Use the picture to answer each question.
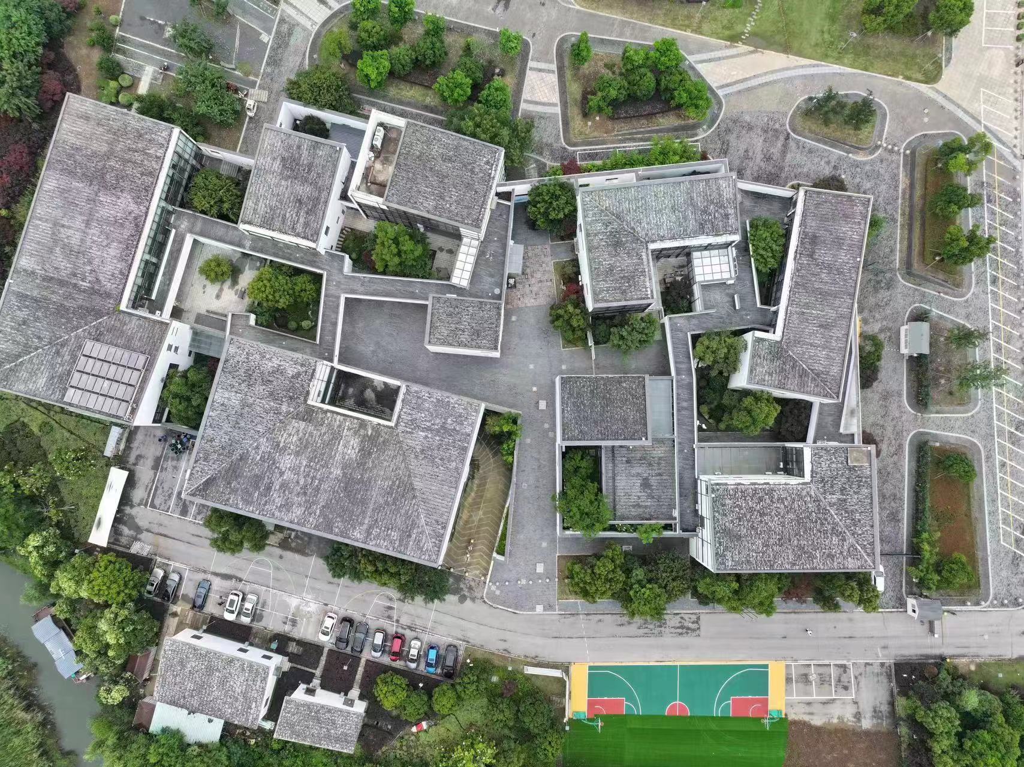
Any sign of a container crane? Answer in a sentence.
No, there appears to be no container crane in this shot.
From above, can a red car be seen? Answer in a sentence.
Yes, looking at the shot, I can spot a red car.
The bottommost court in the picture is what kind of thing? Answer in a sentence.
It looks like the bottommost court is a basketball court.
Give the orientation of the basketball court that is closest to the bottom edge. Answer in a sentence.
Seen from above, the basketball court that is closest to the bottom edge lies from side to side.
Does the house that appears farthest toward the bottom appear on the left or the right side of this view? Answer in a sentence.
The house that appears farthest toward the bottom sits on the left side.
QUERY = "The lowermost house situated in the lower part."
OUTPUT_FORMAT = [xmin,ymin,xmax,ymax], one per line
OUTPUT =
[274,684,371,754]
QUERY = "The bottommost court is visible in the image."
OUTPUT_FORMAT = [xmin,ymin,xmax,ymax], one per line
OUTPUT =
[588,665,769,716]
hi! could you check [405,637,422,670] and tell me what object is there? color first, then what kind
white car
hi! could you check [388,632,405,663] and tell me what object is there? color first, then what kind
red car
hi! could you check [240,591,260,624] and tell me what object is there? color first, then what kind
white car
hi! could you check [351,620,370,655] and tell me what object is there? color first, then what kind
gray car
